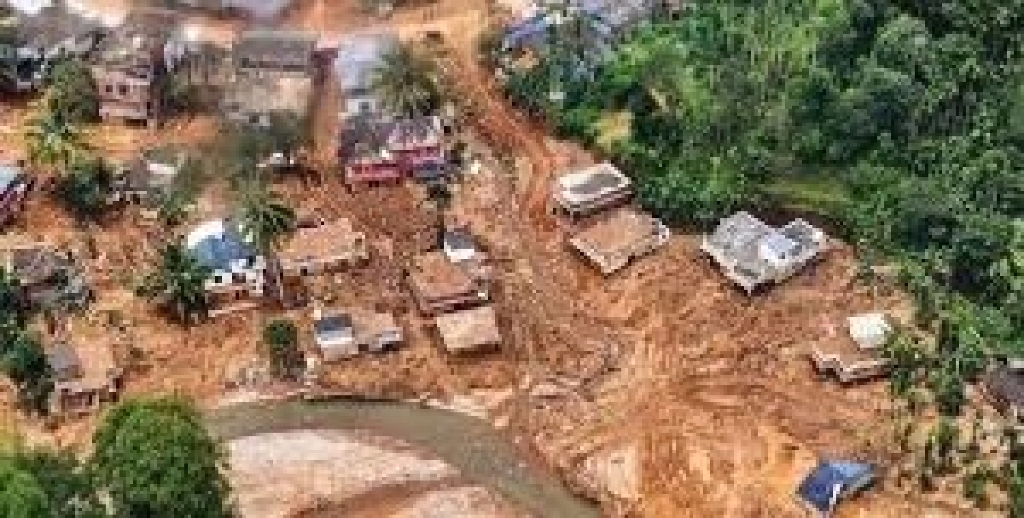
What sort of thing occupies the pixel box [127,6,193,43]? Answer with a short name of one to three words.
house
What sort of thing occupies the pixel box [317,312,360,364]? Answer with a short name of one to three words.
house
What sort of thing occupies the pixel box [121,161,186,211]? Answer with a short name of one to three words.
shed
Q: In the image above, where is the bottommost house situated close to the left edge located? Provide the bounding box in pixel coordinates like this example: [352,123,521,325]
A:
[41,325,121,424]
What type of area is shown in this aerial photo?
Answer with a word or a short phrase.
residential area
